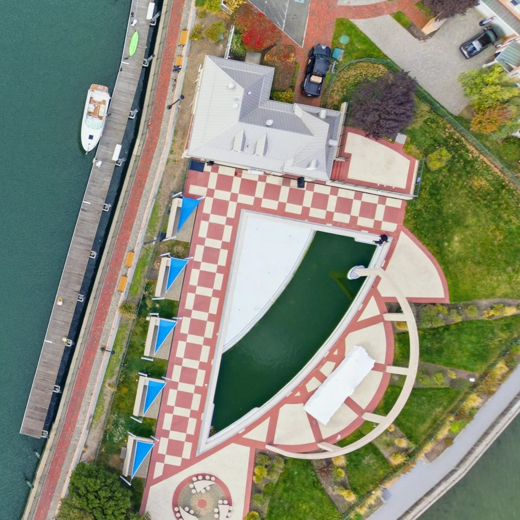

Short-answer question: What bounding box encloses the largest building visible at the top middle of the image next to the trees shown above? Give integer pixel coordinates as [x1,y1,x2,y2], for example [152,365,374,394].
[184,55,343,181]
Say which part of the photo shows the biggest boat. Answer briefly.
top left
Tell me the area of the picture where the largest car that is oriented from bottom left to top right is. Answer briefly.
top right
